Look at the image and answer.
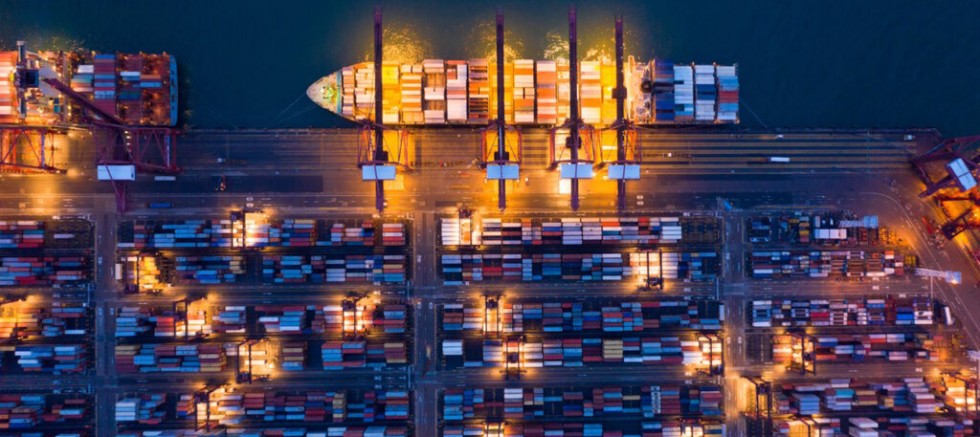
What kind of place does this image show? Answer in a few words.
port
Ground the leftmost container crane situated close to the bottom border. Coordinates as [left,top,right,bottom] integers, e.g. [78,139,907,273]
[193,381,224,427]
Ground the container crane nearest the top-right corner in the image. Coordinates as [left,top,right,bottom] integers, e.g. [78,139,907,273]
[908,136,980,198]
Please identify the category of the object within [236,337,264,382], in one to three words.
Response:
container crane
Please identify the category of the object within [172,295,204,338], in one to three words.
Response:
container crane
